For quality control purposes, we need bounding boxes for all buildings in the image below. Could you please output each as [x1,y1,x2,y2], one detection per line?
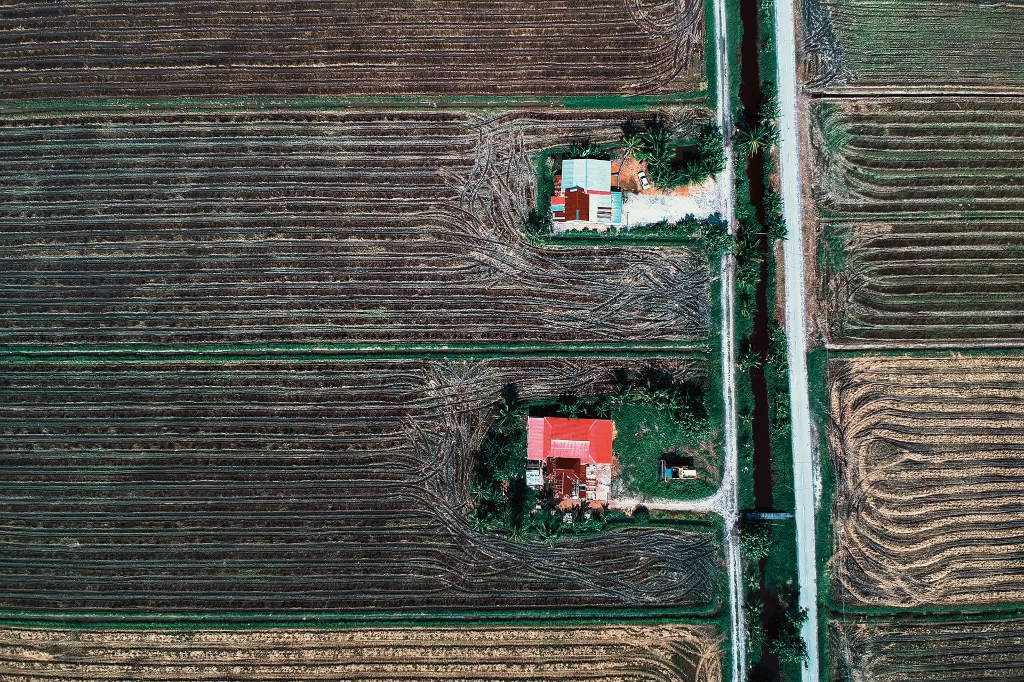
[549,159,622,228]
[526,417,612,500]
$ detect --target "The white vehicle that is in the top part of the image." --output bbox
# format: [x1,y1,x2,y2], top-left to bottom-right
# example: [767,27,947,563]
[638,171,650,190]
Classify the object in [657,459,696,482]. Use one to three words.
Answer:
work vehicle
